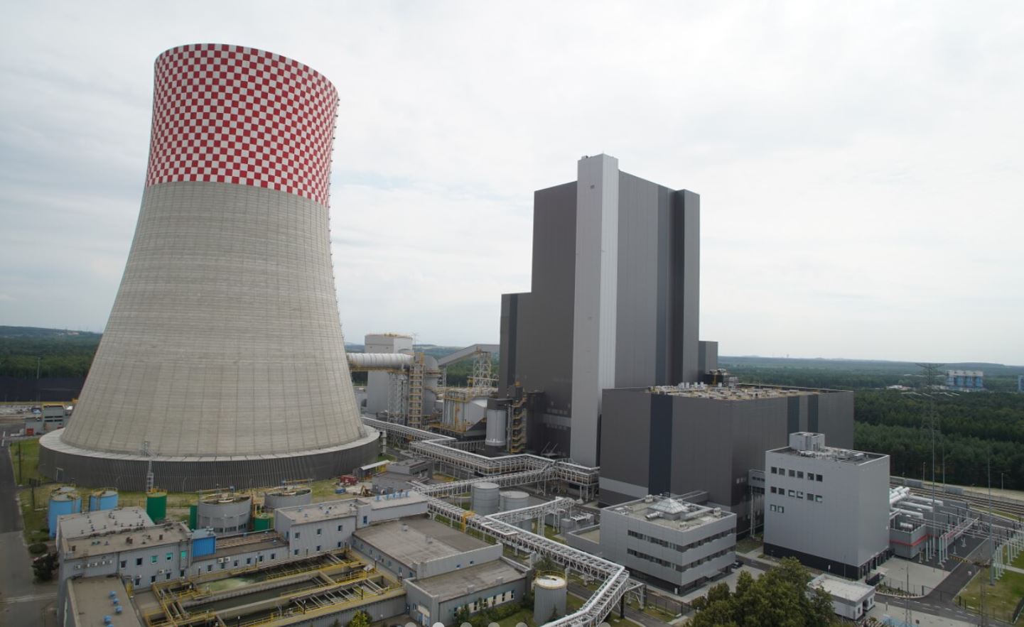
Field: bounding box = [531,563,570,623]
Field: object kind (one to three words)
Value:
storage tank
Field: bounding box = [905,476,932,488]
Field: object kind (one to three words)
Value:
rail car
